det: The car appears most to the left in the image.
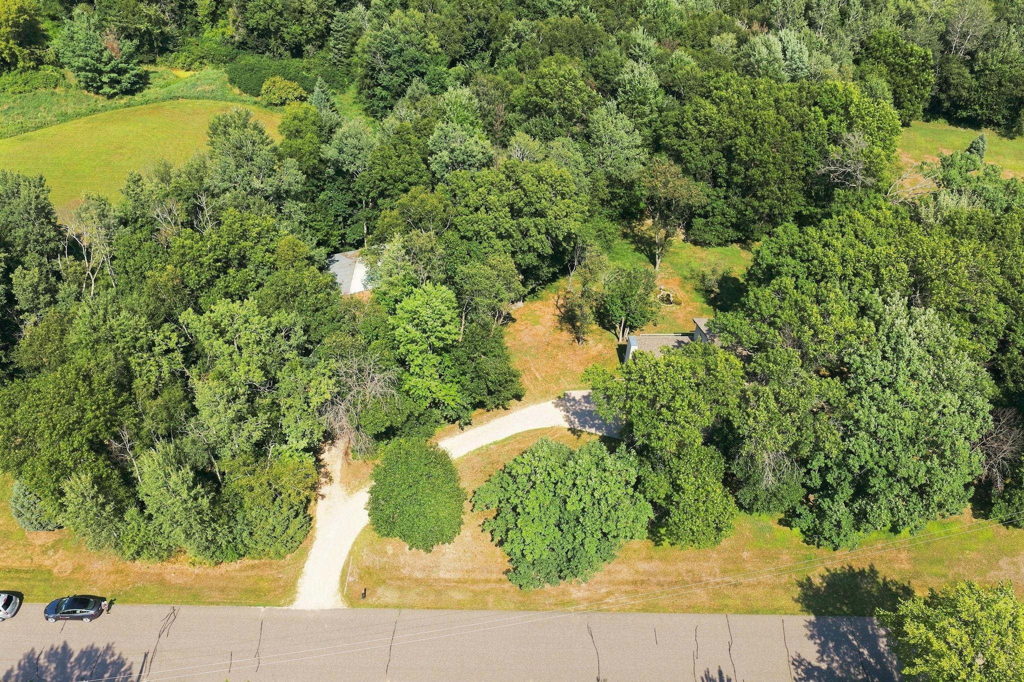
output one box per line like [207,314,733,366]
[0,594,22,622]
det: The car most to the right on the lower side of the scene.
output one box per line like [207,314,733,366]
[43,593,104,624]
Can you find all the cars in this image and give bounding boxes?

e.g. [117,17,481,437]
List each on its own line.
[43,593,104,624]
[0,594,22,622]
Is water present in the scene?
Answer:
No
